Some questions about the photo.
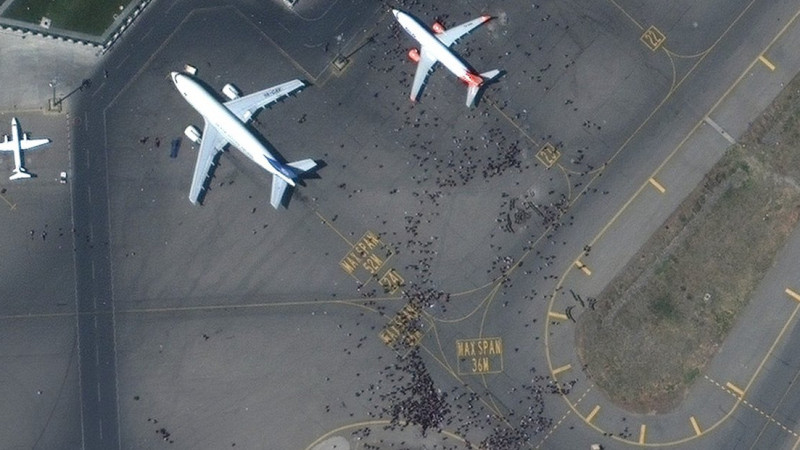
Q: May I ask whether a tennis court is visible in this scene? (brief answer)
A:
No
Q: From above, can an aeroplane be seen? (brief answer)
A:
Yes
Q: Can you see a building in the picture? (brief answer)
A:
No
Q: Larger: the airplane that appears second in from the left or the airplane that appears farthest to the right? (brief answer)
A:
the airplane that appears second in from the left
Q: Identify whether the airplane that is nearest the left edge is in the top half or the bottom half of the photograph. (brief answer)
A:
top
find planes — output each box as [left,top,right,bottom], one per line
[0,118,49,179]
[171,73,318,209]
[392,9,503,105]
